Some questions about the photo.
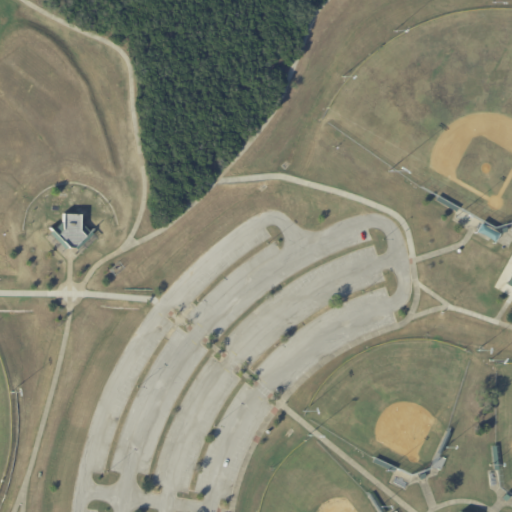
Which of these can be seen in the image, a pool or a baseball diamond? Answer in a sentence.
I can see a baseball diamond in this picture.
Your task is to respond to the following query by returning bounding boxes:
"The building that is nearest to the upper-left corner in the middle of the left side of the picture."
[48,214,98,250]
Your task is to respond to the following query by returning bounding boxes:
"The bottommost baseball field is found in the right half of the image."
[260,440,378,512]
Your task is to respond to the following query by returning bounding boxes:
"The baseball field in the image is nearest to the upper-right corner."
[324,8,512,226]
